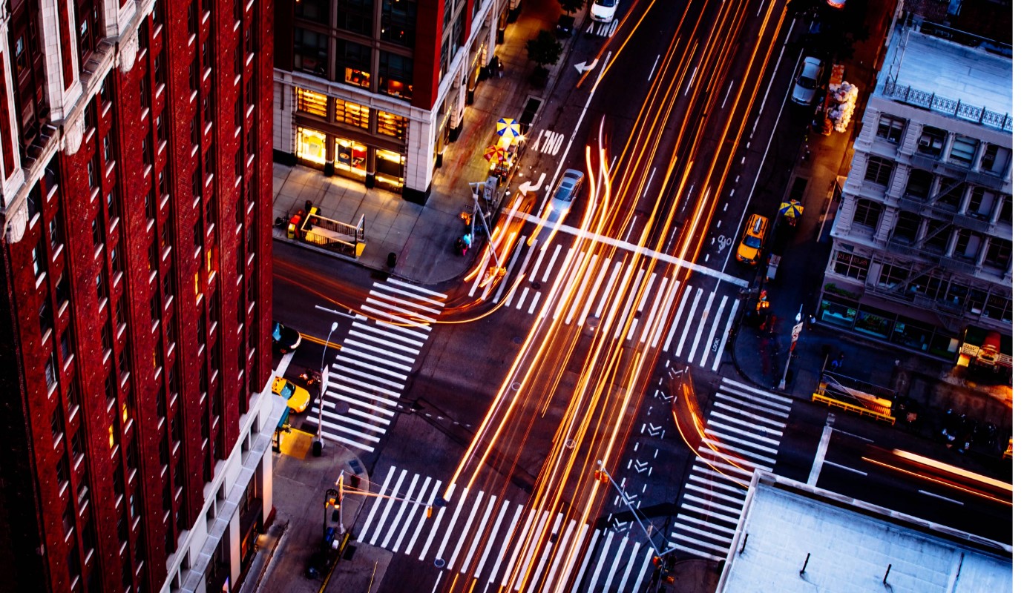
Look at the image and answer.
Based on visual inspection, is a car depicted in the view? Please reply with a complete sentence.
Yes, you can see a car in this photo.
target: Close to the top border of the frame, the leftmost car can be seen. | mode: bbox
[587,0,623,30]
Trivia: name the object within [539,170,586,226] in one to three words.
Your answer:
car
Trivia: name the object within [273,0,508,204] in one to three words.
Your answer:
building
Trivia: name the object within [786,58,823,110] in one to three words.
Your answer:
car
